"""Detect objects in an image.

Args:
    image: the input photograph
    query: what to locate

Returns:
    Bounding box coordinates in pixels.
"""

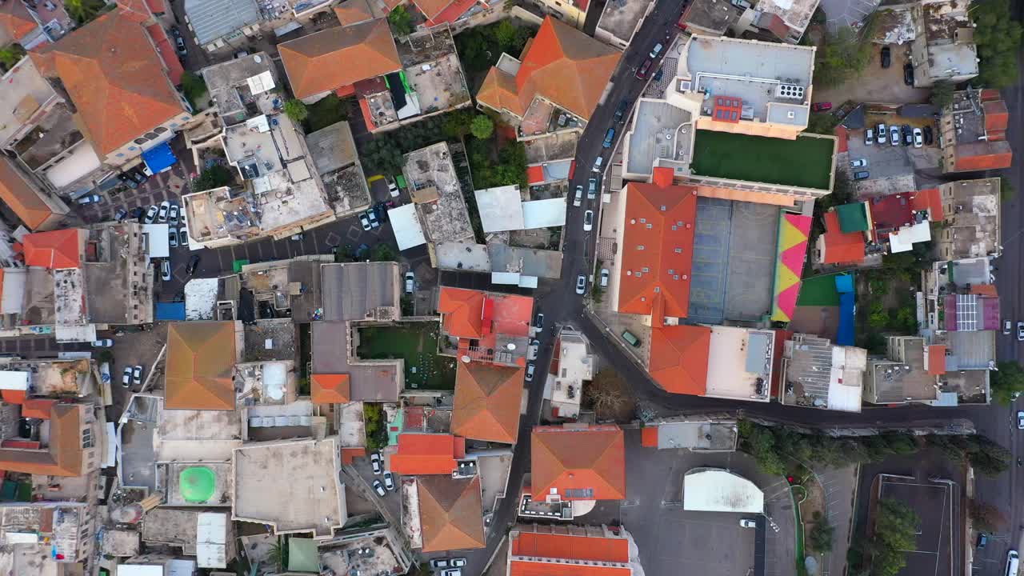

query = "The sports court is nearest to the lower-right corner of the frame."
[843,466,960,576]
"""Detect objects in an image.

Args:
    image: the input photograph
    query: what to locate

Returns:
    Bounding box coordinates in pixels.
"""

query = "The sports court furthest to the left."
[682,196,732,323]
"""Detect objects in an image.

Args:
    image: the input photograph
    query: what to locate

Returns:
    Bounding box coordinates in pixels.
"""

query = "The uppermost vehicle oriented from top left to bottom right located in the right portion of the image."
[620,328,641,349]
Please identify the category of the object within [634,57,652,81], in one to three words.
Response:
vehicle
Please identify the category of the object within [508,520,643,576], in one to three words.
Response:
building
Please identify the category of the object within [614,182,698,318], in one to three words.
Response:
house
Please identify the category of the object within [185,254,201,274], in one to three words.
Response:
car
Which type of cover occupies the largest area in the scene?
buildings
